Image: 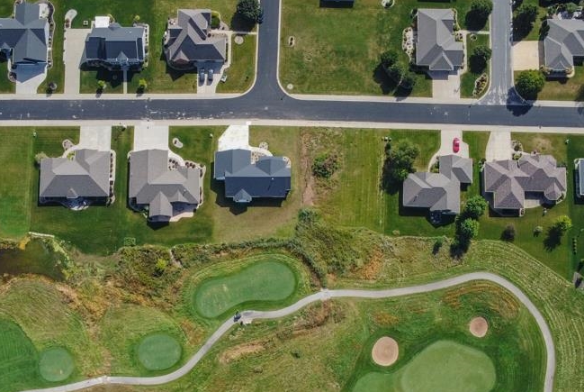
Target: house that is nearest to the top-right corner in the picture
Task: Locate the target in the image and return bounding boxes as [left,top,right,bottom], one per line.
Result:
[542,19,584,71]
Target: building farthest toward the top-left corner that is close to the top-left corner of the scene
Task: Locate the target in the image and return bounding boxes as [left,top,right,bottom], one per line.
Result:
[0,0,48,63]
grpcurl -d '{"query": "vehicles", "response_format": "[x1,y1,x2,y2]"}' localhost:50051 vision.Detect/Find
[198,68,205,83]
[451,137,459,152]
[207,68,214,82]
[233,314,242,321]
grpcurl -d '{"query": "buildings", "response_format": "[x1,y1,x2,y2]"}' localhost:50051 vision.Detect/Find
[168,9,226,63]
[129,149,199,216]
[542,19,584,71]
[214,148,291,202]
[403,153,473,213]
[39,148,110,198]
[82,23,144,63]
[417,8,465,71]
[0,0,48,63]
[484,154,566,208]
